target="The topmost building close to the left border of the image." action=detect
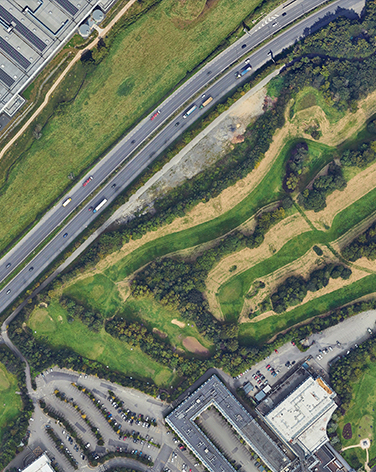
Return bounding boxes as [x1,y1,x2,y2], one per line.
[0,0,119,116]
